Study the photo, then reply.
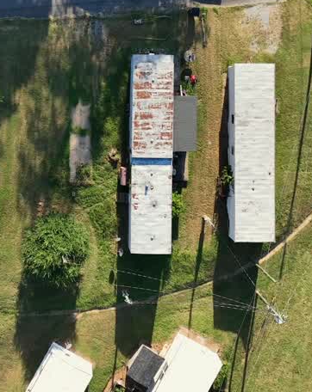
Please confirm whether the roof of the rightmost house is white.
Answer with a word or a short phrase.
Yes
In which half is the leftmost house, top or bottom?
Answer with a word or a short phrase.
bottom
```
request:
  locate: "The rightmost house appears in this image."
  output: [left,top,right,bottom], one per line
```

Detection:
[228,63,275,243]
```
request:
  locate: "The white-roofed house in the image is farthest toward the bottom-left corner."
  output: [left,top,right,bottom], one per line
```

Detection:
[24,333,95,392]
